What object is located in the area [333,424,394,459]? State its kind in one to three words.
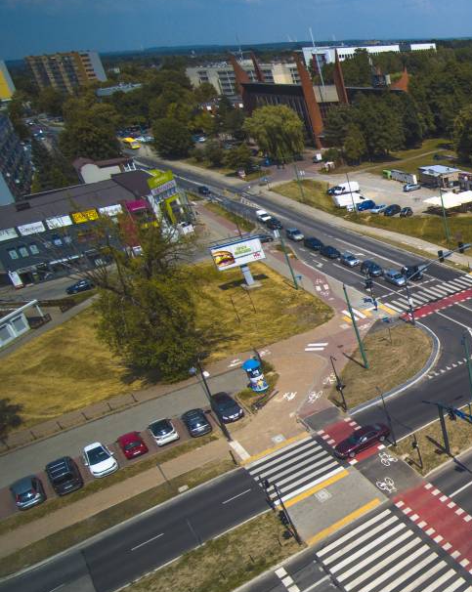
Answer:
car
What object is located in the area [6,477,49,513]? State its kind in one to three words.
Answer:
car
